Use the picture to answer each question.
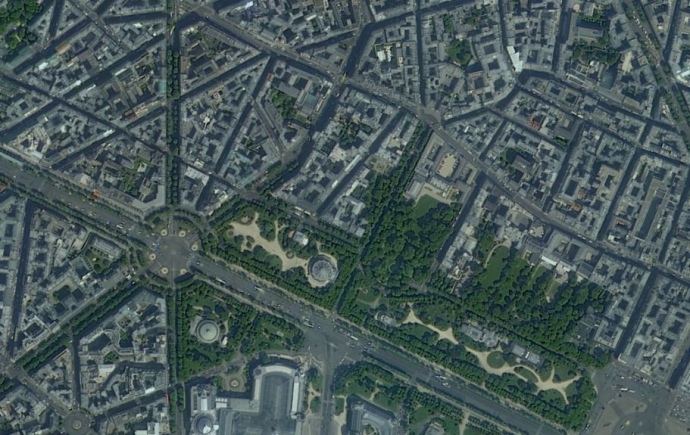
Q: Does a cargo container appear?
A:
No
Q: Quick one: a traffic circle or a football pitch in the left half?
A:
traffic circle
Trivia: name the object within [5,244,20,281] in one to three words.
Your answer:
building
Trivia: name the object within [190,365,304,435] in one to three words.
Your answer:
building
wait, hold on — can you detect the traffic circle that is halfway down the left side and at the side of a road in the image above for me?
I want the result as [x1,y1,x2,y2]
[139,219,206,286]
